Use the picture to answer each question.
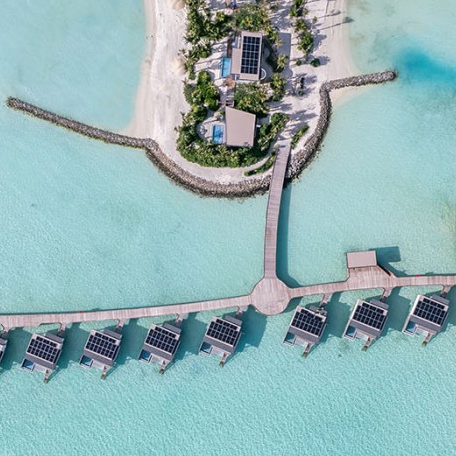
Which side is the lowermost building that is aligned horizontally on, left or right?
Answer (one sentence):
It is on the right.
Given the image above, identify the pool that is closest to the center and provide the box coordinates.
[211,123,226,145]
